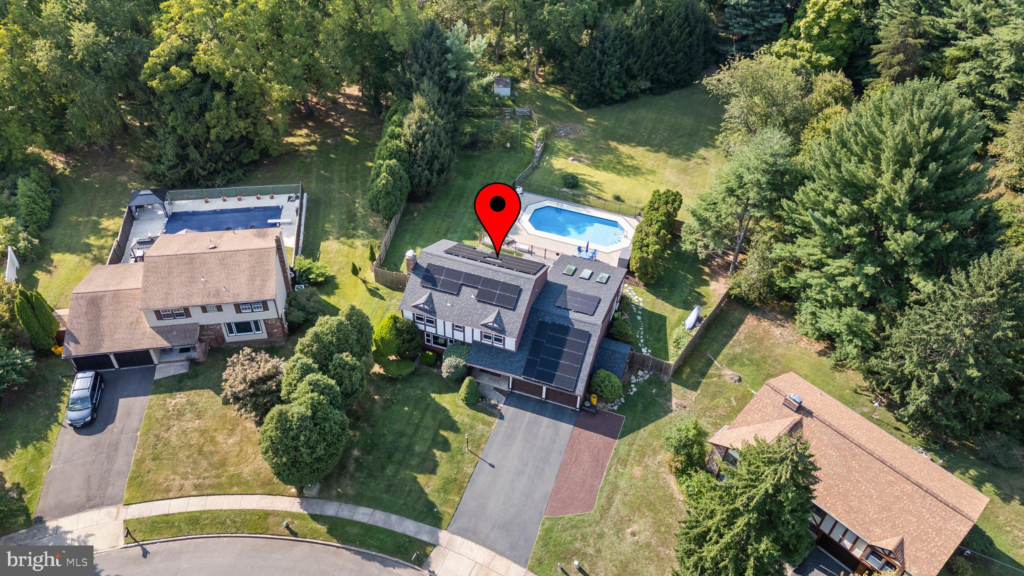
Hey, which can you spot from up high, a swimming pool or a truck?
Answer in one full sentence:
The image shows a swimming pool.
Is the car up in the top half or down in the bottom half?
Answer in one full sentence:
The car sits in the bottom half of the picture.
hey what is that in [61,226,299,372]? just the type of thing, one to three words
house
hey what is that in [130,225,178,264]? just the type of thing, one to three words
gazebo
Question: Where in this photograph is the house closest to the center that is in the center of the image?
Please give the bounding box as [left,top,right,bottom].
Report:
[398,240,632,411]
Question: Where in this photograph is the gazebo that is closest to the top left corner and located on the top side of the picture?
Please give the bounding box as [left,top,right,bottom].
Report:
[126,184,178,222]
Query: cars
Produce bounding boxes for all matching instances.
[64,371,106,431]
